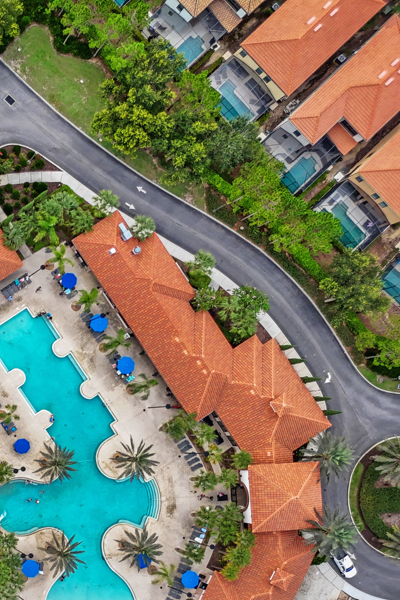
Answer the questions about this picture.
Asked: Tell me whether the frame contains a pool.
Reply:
Yes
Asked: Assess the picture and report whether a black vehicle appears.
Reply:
No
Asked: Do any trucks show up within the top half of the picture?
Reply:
No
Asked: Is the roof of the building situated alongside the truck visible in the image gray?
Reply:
No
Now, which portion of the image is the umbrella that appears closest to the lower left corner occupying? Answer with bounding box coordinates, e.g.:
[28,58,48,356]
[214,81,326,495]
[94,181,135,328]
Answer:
[20,559,39,578]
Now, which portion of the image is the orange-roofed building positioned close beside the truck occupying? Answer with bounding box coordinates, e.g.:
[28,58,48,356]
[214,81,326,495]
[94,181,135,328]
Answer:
[71,210,333,600]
